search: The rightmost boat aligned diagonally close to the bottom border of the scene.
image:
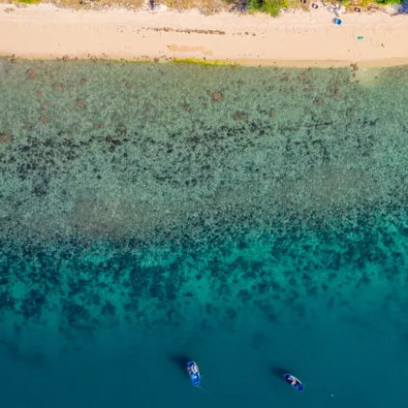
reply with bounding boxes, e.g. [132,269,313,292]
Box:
[283,373,303,392]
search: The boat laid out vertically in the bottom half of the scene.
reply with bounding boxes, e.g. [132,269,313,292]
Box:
[186,360,200,389]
